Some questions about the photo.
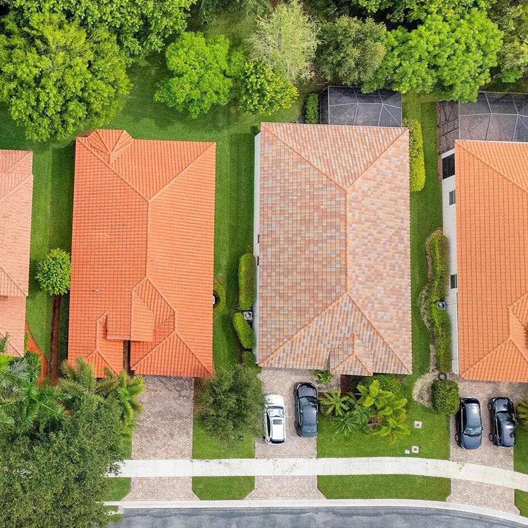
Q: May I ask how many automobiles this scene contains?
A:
four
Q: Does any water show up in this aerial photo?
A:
No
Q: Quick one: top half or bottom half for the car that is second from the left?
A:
bottom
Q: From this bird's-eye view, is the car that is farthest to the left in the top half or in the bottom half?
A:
bottom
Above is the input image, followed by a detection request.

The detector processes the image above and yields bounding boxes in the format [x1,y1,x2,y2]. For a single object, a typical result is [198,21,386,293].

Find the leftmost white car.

[261,395,289,447]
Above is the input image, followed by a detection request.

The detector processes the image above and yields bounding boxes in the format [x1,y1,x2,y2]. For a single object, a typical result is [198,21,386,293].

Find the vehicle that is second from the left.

[294,384,320,439]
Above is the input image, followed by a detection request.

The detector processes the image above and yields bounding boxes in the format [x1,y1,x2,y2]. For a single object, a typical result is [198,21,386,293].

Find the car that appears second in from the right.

[454,399,486,450]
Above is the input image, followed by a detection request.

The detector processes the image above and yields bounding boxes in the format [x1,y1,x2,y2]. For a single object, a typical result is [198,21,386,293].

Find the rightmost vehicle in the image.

[486,397,519,449]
